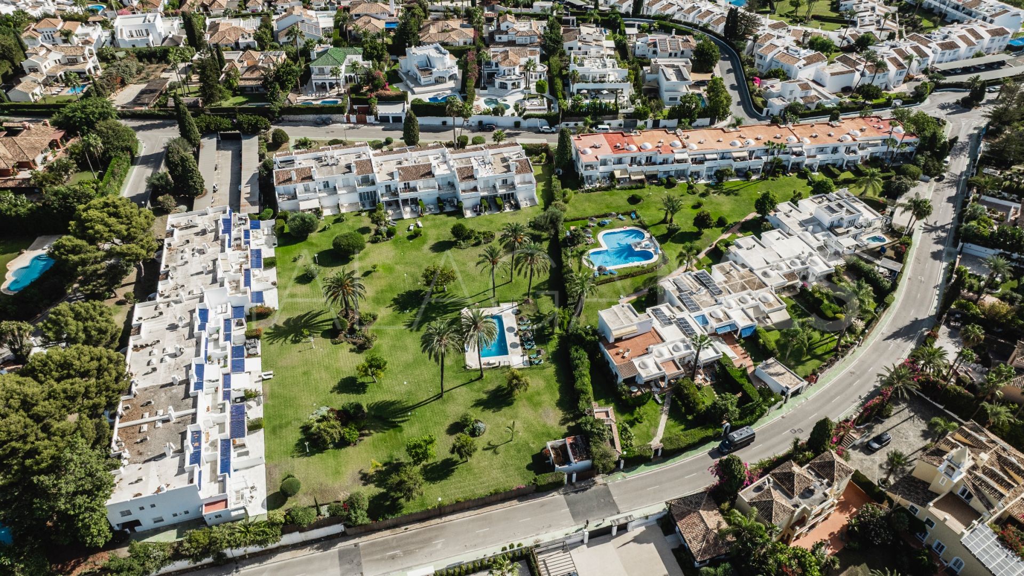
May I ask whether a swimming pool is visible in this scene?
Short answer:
Yes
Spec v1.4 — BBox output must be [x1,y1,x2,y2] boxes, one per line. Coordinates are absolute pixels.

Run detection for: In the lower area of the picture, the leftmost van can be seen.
[719,427,759,455]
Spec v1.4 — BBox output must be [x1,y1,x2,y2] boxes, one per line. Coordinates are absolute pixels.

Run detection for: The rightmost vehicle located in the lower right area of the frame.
[867,432,896,452]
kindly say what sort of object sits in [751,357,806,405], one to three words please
building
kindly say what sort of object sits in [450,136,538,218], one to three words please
house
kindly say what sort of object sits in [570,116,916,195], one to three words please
building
